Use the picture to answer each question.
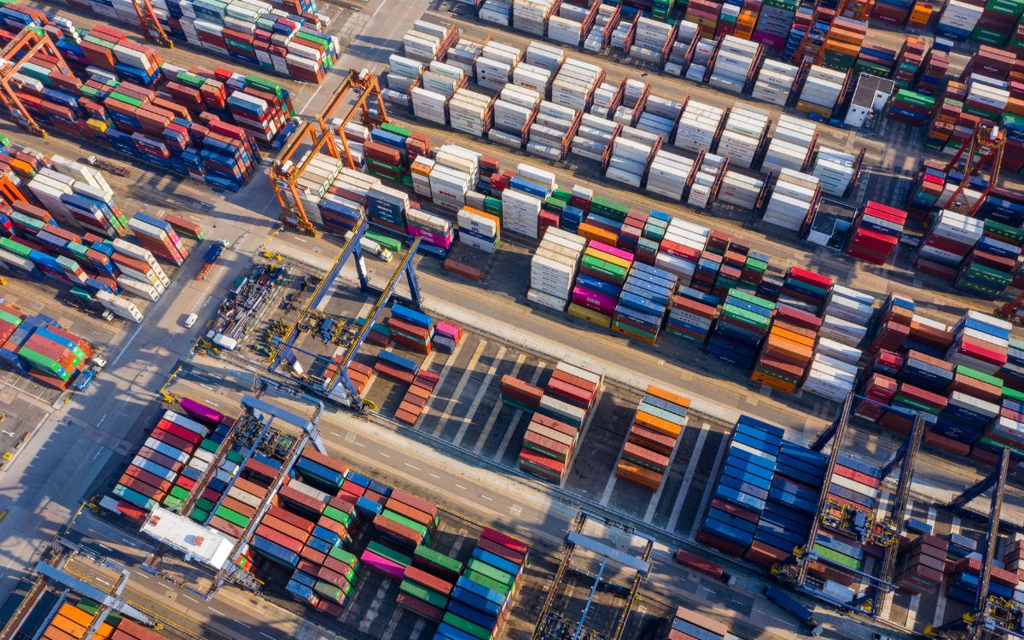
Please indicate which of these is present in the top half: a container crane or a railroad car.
container crane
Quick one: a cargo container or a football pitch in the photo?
cargo container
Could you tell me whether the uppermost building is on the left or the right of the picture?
right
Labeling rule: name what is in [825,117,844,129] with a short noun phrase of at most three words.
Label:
vehicle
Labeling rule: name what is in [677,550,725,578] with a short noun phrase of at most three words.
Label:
shipping container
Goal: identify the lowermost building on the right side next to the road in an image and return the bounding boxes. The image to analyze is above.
[807,198,856,246]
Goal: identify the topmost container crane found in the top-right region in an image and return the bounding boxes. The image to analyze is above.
[785,0,839,70]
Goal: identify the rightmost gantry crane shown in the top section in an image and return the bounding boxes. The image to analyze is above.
[952,106,1018,217]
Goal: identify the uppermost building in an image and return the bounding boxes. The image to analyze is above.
[844,72,895,129]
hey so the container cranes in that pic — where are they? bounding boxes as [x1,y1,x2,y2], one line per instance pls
[264,214,425,414]
[130,374,335,604]
[0,22,73,134]
[785,0,839,70]
[768,388,925,623]
[523,508,661,640]
[952,106,1018,217]
[0,533,152,640]
[261,119,344,235]
[920,443,1024,640]
[308,65,386,169]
